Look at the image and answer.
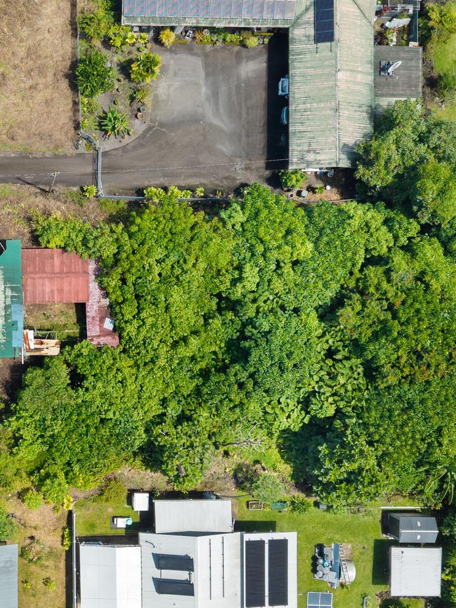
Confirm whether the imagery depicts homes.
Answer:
Yes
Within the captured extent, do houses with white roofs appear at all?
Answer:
Yes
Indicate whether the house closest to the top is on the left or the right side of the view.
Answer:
right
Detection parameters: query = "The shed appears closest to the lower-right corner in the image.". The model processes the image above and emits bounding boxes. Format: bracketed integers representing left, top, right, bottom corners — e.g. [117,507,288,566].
[384,545,442,596]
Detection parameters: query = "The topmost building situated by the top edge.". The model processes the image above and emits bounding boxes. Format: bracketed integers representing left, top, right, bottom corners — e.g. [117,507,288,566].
[380,0,421,47]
